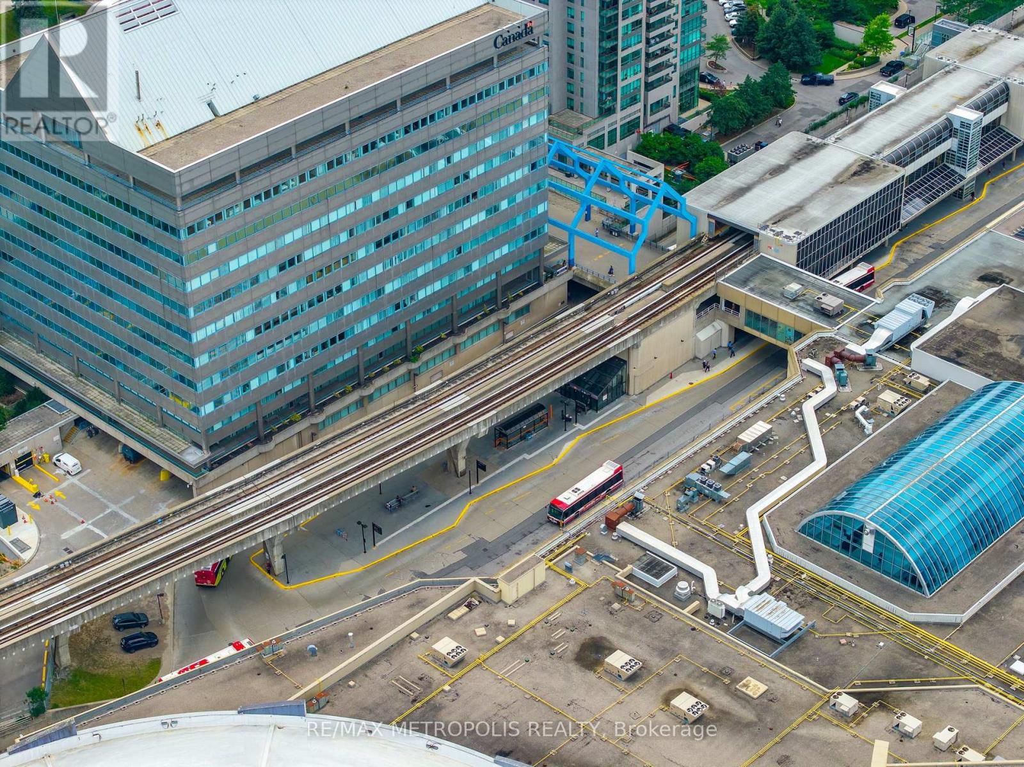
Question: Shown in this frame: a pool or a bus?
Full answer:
Looking from above, you can make out a bus.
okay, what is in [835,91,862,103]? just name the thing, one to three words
vehicle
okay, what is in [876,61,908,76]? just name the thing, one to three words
vehicle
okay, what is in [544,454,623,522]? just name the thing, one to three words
bus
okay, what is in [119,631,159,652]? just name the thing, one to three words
car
